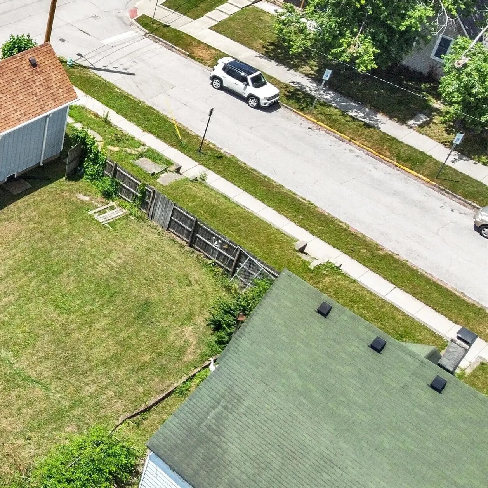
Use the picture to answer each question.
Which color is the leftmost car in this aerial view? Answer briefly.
white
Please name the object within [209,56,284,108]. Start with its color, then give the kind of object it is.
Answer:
white car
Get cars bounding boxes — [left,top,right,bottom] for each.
[472,206,488,239]
[209,56,284,108]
